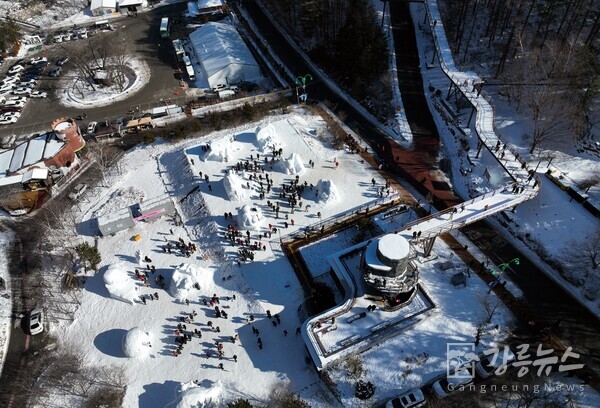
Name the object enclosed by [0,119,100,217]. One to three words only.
building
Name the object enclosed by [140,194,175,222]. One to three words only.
building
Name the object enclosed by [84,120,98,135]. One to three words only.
car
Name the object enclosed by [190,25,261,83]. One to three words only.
tent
